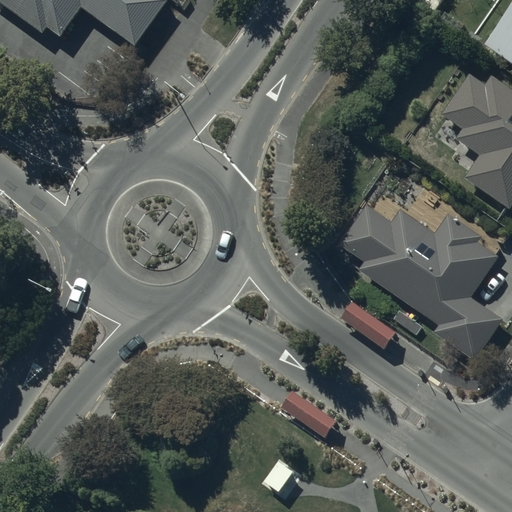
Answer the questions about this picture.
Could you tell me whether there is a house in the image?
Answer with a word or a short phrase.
Yes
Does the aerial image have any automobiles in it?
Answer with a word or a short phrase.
Yes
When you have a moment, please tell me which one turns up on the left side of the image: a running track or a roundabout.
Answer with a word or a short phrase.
roundabout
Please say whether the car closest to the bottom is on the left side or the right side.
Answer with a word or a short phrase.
left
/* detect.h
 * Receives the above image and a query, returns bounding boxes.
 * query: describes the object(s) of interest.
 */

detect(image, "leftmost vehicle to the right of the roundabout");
[215,231,232,260]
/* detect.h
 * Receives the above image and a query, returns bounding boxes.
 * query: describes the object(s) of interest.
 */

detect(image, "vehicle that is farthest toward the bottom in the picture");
[118,334,145,360]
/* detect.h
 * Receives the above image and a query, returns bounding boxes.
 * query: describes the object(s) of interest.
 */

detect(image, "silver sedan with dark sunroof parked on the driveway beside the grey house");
[480,270,506,301]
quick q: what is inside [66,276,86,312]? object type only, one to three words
vehicle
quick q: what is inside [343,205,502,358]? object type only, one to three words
house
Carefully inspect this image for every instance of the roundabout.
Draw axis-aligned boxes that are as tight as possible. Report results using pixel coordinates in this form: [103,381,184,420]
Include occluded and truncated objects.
[106,178,214,286]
